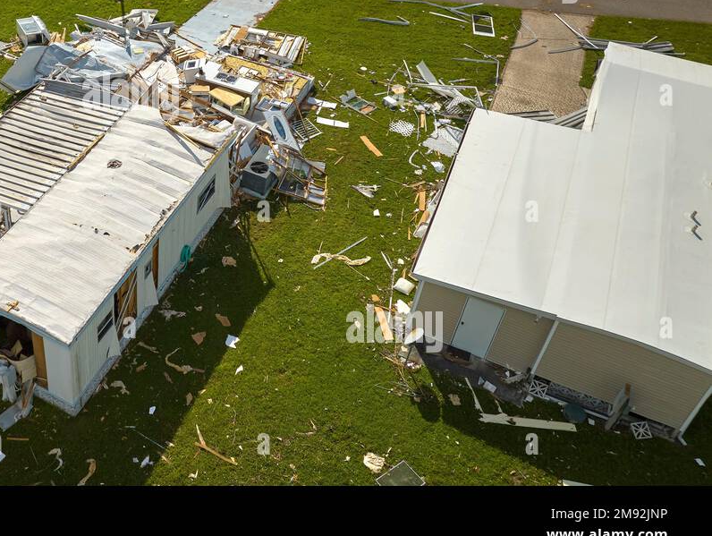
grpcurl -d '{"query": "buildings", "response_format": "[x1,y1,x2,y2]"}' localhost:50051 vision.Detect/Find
[403,47,712,464]
[0,69,235,414]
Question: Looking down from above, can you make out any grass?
Yes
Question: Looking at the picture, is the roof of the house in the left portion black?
No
